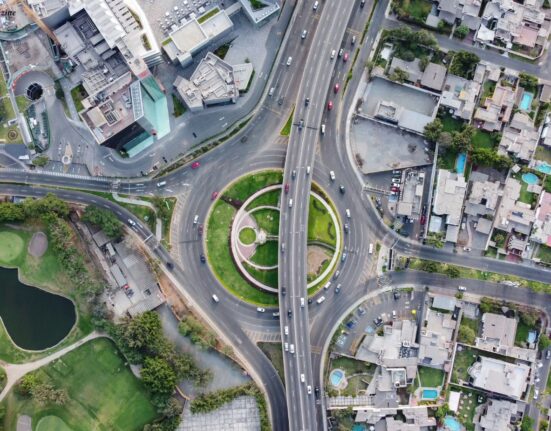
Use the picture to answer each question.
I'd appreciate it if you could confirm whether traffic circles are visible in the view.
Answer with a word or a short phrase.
Yes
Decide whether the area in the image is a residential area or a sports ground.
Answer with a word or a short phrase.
residential area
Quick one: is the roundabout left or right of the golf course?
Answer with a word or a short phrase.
to its right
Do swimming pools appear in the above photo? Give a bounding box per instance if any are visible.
[328,369,345,388]
[421,388,439,400]
[349,421,368,431]
[534,161,551,174]
[443,415,464,431]
[519,90,533,109]
[456,151,467,174]
[527,331,536,343]
[521,172,540,185]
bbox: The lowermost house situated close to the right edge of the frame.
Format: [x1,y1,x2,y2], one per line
[469,393,525,431]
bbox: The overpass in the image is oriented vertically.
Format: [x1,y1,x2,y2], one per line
[278,0,355,431]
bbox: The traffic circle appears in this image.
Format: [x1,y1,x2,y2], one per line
[204,168,343,307]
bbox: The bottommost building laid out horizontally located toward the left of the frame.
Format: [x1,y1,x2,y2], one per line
[179,393,260,431]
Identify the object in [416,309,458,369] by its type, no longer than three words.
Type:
house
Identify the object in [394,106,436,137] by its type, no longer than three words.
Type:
shed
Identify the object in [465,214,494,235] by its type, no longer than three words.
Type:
house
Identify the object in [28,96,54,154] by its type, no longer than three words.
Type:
building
